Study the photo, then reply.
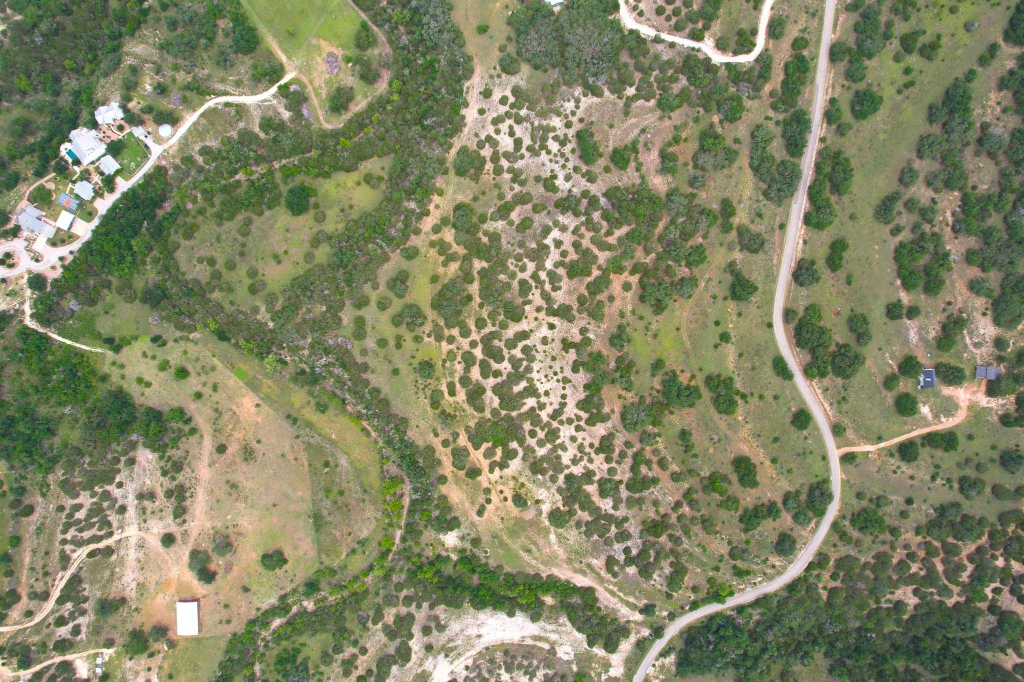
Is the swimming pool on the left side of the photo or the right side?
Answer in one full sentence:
The swimming pool appears in the left half of the scene.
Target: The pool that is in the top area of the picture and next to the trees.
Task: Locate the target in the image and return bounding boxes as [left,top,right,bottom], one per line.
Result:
[60,143,82,163]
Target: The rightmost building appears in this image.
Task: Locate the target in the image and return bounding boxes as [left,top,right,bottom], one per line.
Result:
[973,366,1000,380]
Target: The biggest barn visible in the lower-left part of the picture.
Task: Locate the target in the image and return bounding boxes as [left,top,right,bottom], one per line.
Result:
[176,599,202,636]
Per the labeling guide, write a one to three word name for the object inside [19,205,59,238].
house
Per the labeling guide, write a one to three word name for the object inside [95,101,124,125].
house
